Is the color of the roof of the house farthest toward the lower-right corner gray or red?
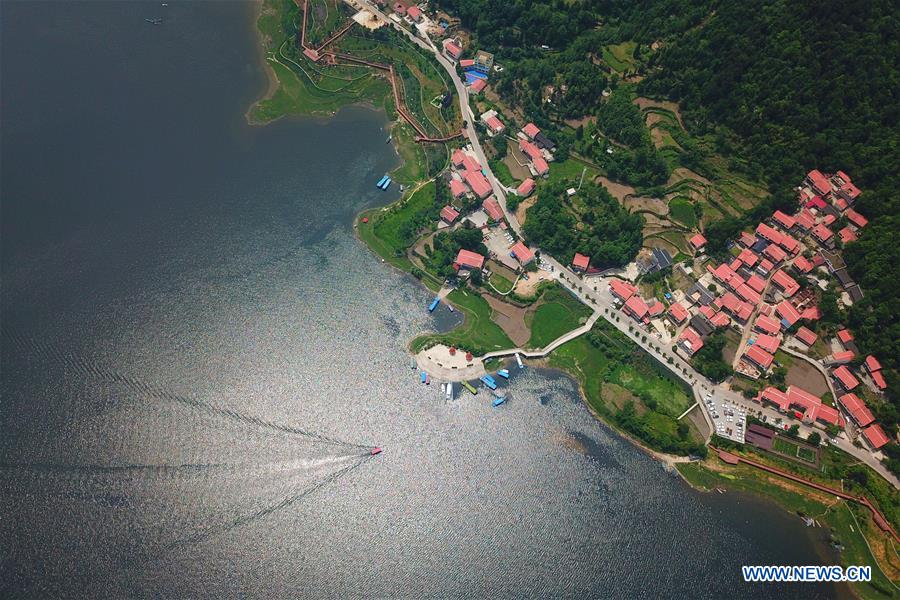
red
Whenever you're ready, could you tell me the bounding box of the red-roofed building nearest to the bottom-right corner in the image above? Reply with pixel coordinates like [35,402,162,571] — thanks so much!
[859,423,893,451]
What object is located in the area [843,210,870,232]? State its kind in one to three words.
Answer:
house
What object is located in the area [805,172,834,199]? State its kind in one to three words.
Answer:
house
